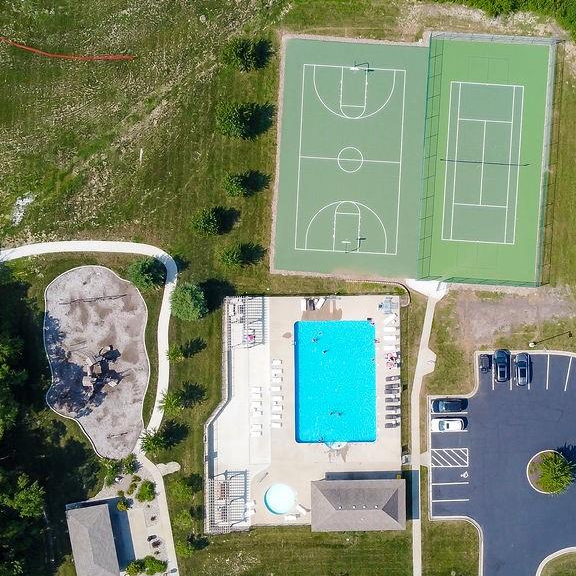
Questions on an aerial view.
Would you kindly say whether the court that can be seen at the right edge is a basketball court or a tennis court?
tennis court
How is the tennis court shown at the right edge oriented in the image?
up and down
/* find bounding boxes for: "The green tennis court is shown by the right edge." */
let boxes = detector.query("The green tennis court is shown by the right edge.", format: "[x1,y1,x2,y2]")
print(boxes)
[419,39,552,284]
